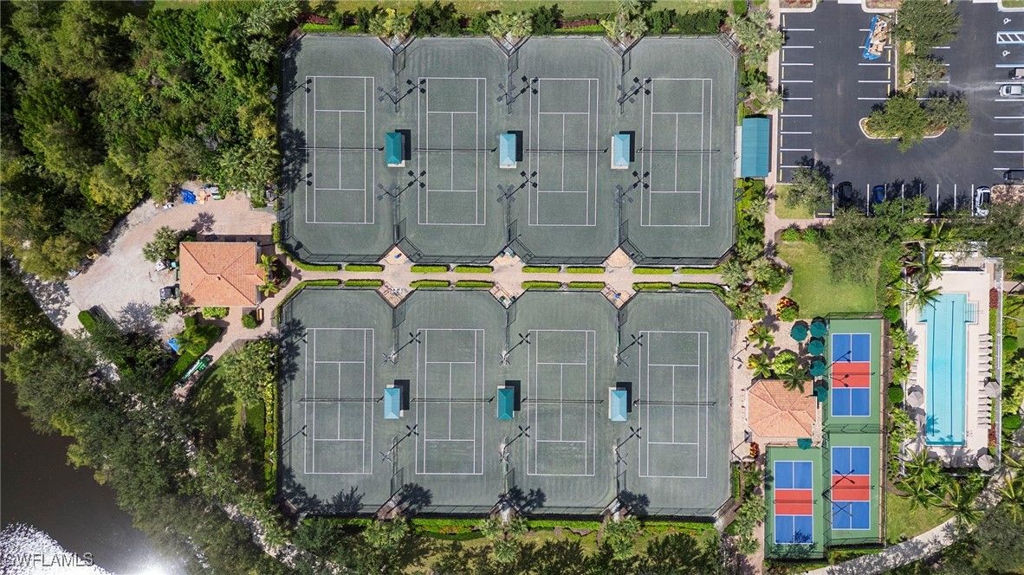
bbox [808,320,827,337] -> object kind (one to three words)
umbrella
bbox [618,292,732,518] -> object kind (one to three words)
tennis court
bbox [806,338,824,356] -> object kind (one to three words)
umbrella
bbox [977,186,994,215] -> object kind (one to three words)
car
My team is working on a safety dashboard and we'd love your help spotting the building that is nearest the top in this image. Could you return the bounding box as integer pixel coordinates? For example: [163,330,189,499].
[737,117,769,178]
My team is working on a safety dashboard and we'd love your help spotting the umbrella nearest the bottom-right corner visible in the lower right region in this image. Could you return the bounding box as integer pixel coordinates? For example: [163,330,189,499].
[973,454,993,472]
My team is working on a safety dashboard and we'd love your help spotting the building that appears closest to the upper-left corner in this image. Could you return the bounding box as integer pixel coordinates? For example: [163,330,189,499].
[179,242,268,306]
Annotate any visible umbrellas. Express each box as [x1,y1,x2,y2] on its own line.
[813,385,829,403]
[808,359,825,376]
[806,338,824,356]
[808,320,827,337]
[978,380,998,397]
[905,390,924,408]
[796,437,812,451]
[790,323,808,341]
[973,454,993,472]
